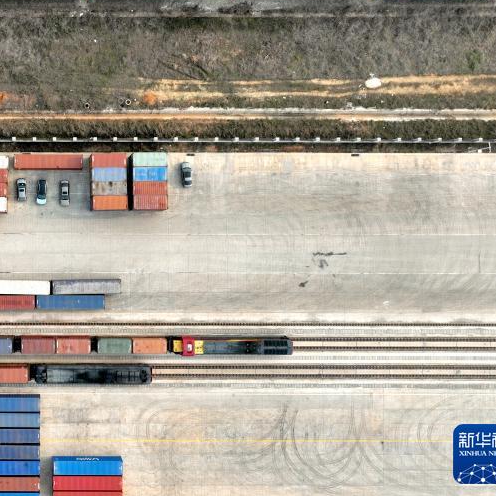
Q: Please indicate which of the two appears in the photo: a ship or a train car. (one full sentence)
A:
The one in the frame is a train car.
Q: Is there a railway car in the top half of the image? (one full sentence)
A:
No, there's no railway car to be seen in the top half of the image.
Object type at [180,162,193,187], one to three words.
vehicle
